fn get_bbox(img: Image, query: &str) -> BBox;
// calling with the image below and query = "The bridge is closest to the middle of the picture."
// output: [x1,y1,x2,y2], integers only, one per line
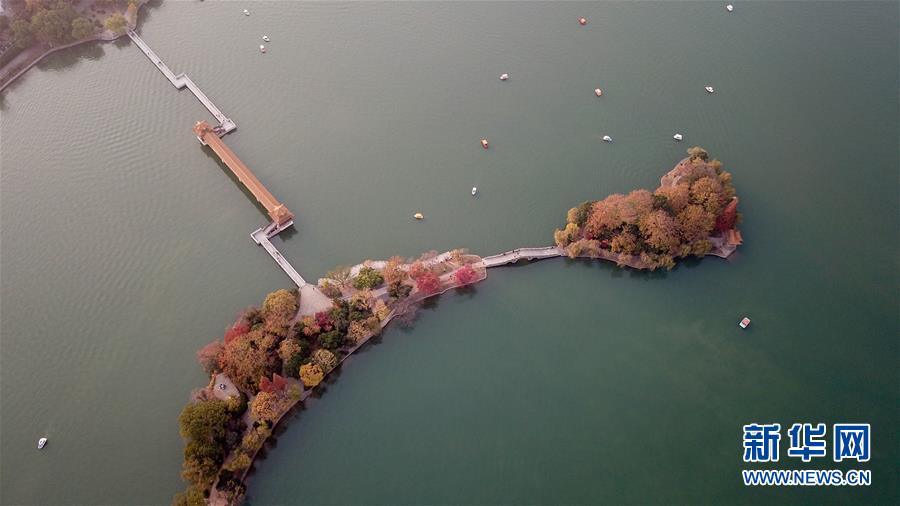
[483,245,562,268]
